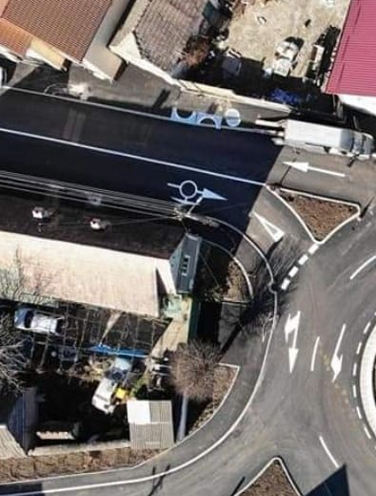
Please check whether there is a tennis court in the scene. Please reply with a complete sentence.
No, there's no tennis court here.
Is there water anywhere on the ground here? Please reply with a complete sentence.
No, there's no water in this view.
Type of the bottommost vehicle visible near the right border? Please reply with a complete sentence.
The bottommost vehicle visible near the right border is a truck.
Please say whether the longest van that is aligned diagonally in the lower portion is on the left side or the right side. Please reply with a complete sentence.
The longest van that is aligned diagonally in the lower portion appears in the left half of the scene.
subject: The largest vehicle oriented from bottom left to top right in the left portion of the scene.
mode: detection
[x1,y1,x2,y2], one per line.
[87,355,141,415]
